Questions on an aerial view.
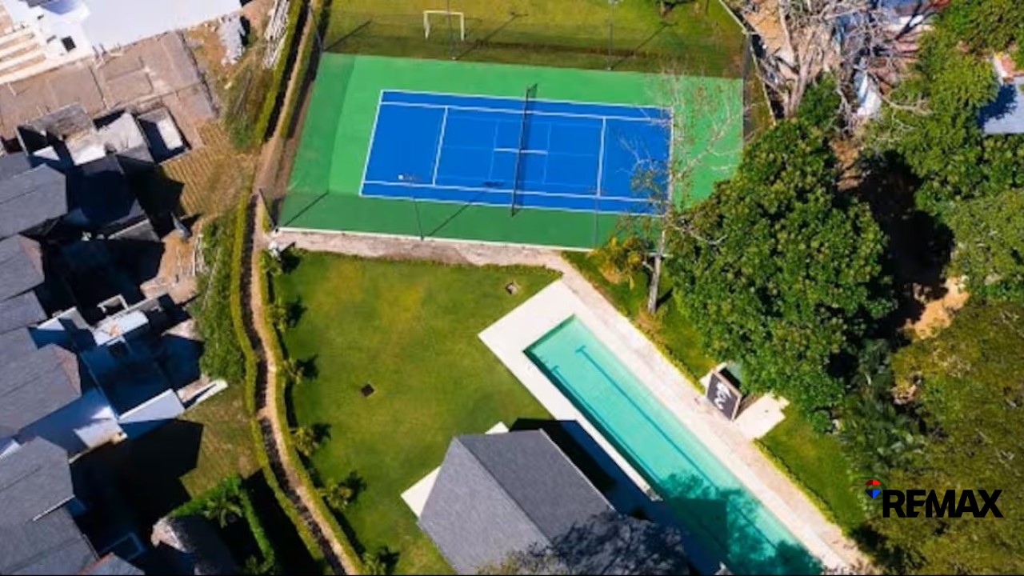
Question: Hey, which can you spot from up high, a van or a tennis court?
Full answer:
I can see a tennis court in this picture.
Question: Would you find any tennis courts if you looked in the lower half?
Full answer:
No, there's no tennis court to be seen in the lower half.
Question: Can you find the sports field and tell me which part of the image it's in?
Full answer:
Look in the top portion of the view to spot the sports field.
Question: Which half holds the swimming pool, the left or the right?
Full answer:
It is on the right.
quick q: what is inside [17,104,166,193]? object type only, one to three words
house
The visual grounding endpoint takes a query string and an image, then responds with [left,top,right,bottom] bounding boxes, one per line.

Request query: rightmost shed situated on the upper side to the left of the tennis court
[136,108,195,177]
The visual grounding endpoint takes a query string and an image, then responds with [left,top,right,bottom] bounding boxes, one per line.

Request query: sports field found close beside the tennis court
[329,0,748,76]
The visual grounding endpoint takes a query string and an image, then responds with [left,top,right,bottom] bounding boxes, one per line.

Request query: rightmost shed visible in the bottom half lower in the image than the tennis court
[707,372,755,420]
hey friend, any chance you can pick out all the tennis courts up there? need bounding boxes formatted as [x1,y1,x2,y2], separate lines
[272,53,748,260]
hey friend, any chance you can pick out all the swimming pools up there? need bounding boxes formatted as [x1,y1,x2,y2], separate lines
[527,315,828,576]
